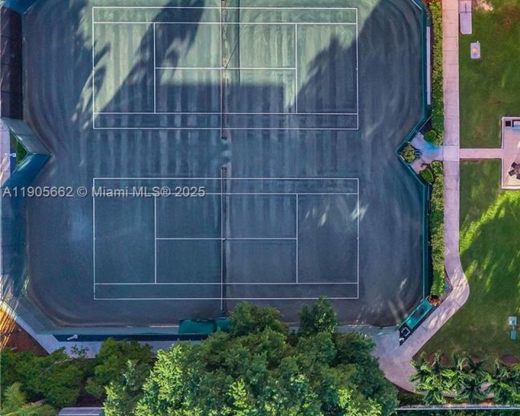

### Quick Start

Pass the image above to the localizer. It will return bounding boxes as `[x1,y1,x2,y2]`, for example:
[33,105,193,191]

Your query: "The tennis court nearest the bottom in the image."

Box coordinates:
[26,153,426,327]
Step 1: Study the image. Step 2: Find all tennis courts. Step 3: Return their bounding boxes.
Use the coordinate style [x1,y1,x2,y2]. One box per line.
[26,153,426,327]
[22,0,426,153]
